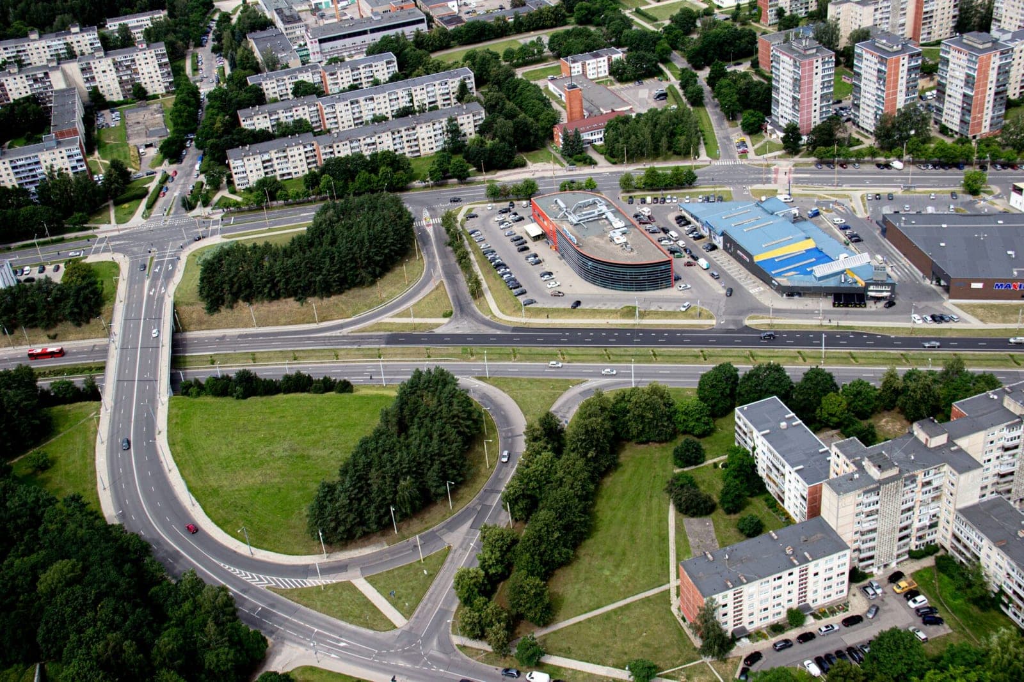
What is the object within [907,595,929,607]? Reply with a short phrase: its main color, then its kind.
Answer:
white vehicle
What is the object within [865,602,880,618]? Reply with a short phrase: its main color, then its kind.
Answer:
gray car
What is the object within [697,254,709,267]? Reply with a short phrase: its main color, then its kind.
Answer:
white vehicle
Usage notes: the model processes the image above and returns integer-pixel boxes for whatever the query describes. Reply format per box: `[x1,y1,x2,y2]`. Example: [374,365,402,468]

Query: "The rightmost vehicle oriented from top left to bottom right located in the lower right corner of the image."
[909,623,928,640]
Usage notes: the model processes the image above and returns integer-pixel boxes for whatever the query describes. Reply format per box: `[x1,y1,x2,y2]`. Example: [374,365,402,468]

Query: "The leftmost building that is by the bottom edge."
[676,515,852,652]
